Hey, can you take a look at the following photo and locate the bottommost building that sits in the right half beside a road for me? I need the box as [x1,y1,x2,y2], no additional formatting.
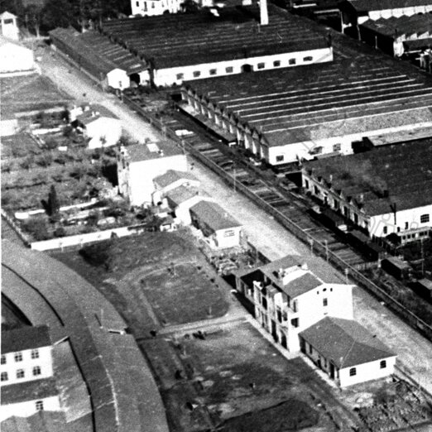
[301,329,399,387]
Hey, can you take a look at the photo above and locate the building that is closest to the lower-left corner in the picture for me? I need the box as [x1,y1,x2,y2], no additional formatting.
[0,327,52,383]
